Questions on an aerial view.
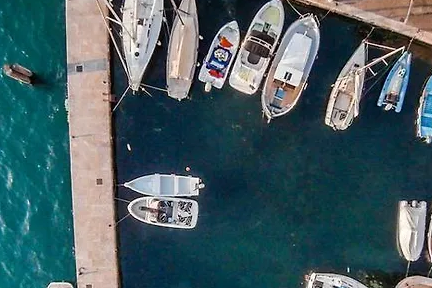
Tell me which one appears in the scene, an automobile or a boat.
boat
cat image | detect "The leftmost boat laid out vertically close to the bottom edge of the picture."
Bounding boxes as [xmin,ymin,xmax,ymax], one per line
[397,196,426,276]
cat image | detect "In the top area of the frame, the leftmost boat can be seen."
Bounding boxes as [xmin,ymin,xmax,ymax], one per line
[96,0,167,109]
